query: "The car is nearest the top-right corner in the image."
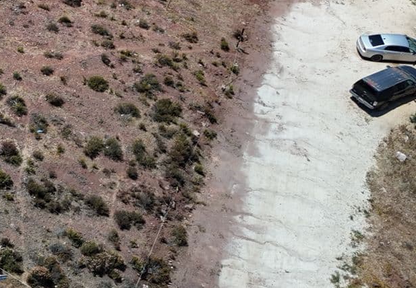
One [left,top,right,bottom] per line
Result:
[354,32,416,65]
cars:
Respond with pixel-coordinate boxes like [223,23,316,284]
[357,60,416,110]
[354,32,416,65]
